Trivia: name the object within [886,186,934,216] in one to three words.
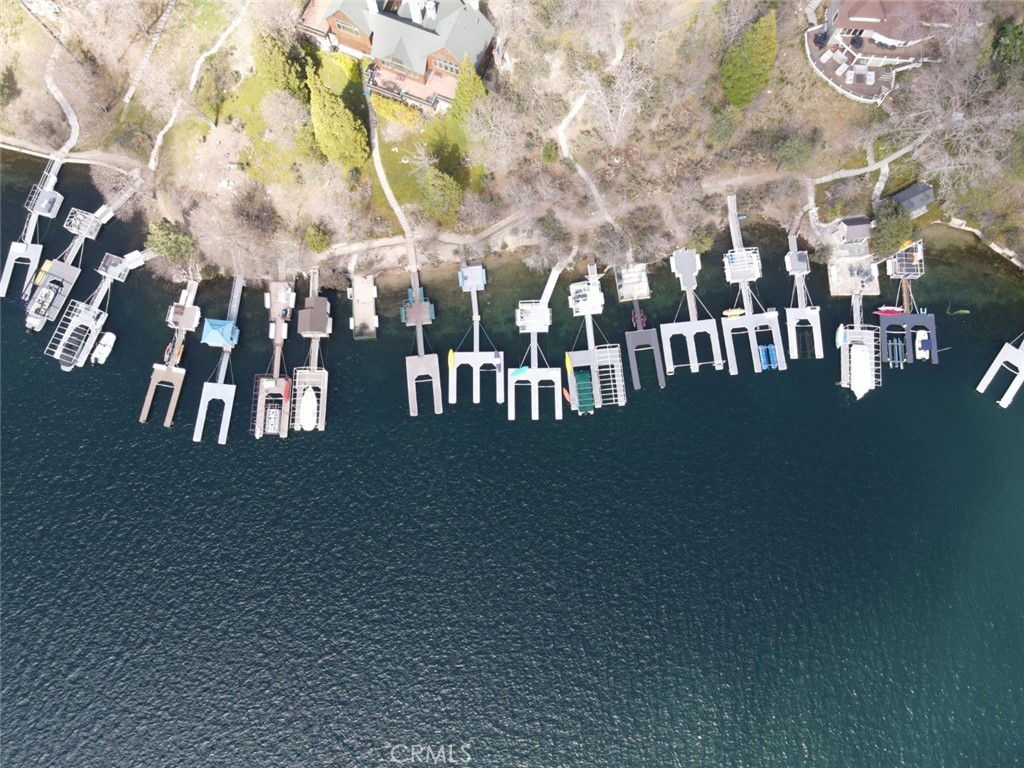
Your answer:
shed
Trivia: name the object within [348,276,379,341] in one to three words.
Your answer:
pier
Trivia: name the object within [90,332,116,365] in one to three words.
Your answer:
boat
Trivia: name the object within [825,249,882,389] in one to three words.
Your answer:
pier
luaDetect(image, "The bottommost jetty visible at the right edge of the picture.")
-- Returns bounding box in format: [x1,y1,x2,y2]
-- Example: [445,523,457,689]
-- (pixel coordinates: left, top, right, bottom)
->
[975,327,1024,409]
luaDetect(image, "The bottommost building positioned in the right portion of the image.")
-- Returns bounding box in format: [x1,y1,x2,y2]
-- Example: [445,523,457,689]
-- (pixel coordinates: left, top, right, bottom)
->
[833,217,873,250]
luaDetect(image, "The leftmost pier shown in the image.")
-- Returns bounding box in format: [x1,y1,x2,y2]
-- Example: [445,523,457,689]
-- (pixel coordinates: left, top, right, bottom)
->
[0,153,68,301]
